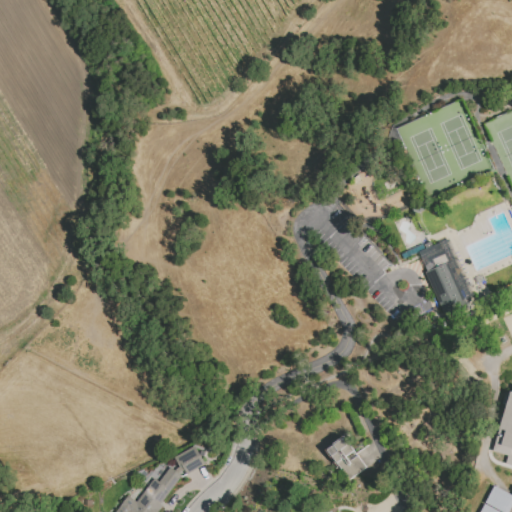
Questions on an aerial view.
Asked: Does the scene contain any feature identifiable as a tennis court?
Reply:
Yes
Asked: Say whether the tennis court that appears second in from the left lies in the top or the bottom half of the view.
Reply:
top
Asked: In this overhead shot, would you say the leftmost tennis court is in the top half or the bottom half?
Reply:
top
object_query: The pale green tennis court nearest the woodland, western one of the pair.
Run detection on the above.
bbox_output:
[398,114,458,195]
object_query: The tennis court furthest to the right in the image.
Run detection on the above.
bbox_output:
[486,112,512,182]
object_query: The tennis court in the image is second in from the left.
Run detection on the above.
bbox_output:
[430,102,488,178]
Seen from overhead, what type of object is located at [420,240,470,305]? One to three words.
building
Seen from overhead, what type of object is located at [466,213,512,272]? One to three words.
swimming pool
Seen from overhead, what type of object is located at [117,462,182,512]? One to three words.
house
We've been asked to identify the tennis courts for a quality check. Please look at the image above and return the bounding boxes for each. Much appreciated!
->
[486,112,512,182]
[430,102,488,178]
[398,114,458,195]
